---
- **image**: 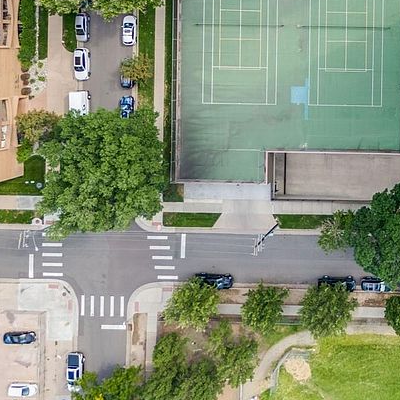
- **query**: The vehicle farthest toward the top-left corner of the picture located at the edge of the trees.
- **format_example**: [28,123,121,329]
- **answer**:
[74,12,93,43]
